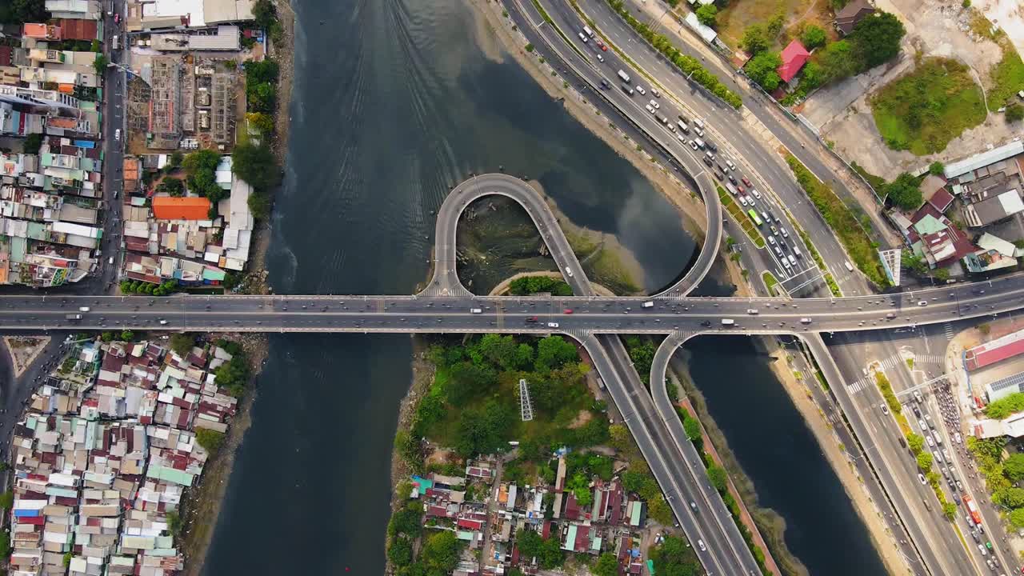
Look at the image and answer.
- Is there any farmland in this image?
No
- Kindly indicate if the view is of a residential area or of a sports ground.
residential area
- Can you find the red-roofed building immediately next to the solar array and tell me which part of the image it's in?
right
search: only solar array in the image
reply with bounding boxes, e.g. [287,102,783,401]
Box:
[991,372,1024,393]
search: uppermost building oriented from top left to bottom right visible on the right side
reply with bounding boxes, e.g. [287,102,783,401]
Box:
[684,13,717,43]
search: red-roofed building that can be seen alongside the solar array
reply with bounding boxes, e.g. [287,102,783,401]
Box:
[959,326,1024,371]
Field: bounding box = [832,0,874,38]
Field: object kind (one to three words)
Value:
house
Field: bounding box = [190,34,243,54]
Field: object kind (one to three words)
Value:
shed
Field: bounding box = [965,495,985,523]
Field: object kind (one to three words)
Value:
bus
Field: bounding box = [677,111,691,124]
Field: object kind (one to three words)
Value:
vehicle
